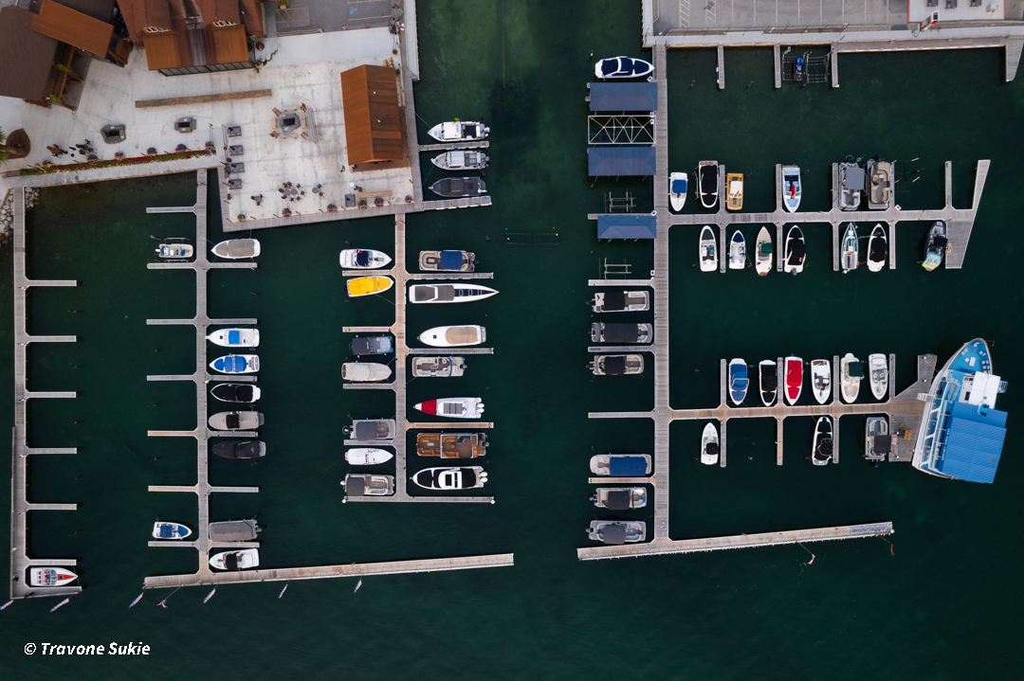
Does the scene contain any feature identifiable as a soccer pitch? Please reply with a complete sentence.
No, the scene contains no soccer pitch.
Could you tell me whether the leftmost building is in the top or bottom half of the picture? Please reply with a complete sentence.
The leftmost building sits in the top half of the picture.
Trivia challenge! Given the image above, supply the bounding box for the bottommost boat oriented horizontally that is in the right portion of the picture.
[584,515,653,548]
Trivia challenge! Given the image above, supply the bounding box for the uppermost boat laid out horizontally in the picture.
[593,55,655,79]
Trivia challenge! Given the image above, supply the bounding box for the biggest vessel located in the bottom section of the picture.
[915,338,1008,483]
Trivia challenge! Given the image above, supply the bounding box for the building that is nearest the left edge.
[0,0,136,119]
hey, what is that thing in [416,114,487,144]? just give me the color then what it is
white boat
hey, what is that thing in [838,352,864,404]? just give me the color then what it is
white boat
